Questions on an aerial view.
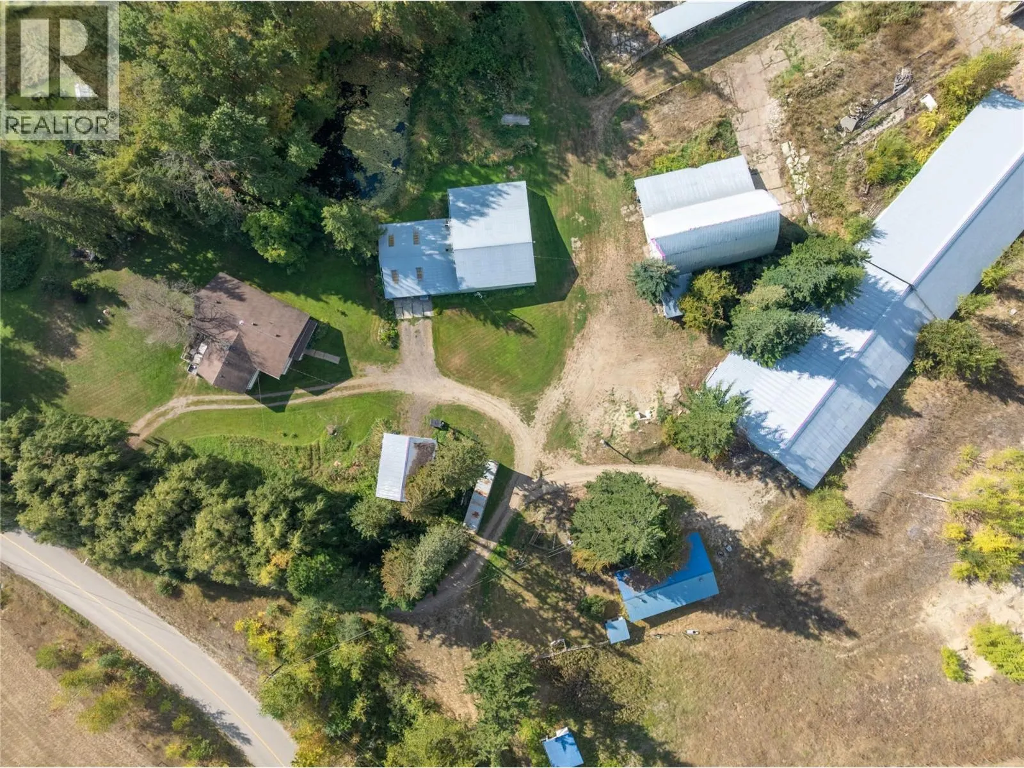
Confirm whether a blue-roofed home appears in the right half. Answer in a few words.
Yes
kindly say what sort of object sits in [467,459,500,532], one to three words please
trailer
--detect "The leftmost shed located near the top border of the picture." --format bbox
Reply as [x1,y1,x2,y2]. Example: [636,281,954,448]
[650,0,764,47]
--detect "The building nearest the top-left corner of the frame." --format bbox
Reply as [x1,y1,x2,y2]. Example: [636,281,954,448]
[192,272,322,394]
